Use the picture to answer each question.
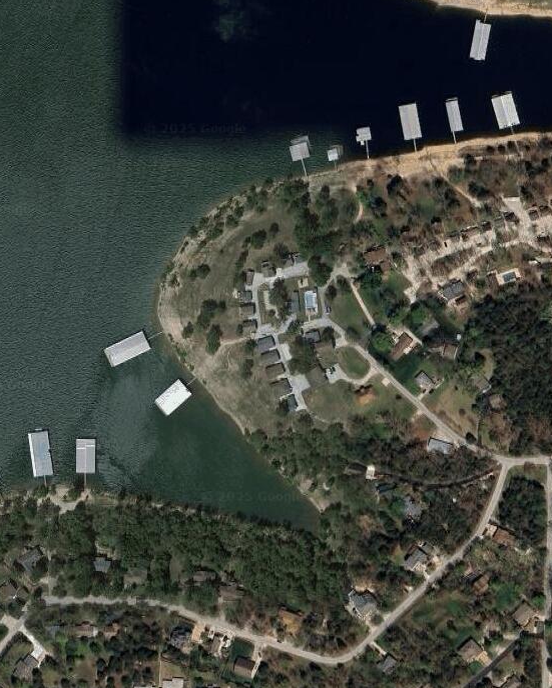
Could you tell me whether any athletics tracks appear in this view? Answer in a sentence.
No, there's no athletics track here.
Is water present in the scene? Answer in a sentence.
Yes, there is water in the image.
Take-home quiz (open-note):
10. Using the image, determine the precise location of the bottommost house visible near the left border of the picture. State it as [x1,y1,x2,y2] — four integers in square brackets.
[14,661,44,682]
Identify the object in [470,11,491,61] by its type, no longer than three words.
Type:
pier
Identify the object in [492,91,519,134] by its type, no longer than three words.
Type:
pier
